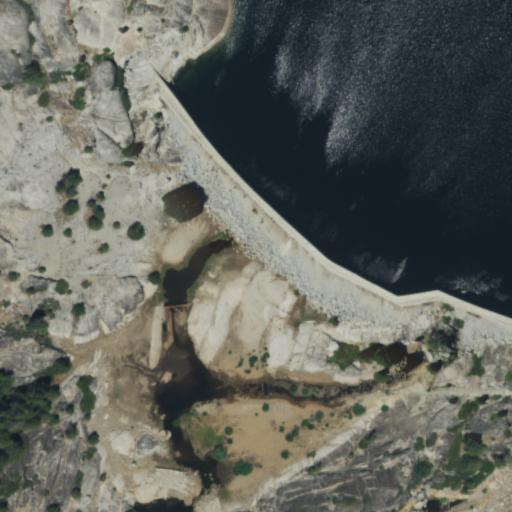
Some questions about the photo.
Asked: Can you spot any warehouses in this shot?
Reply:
No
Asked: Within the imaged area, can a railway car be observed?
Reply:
No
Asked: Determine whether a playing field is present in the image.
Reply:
No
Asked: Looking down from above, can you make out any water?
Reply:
Yes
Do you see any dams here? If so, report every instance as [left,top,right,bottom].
[150,67,512,352]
